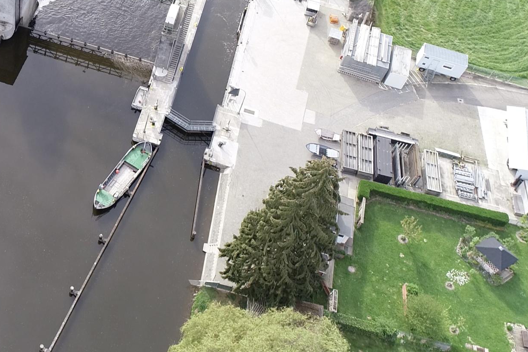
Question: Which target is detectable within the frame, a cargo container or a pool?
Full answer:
There is a cargo container in the scene.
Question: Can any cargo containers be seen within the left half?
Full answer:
No, there's no cargo container to be seen within the left half.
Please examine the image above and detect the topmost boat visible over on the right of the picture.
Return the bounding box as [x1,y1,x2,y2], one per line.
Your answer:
[313,128,340,142]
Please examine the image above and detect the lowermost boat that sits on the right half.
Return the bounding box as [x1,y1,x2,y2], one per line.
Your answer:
[305,142,340,160]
